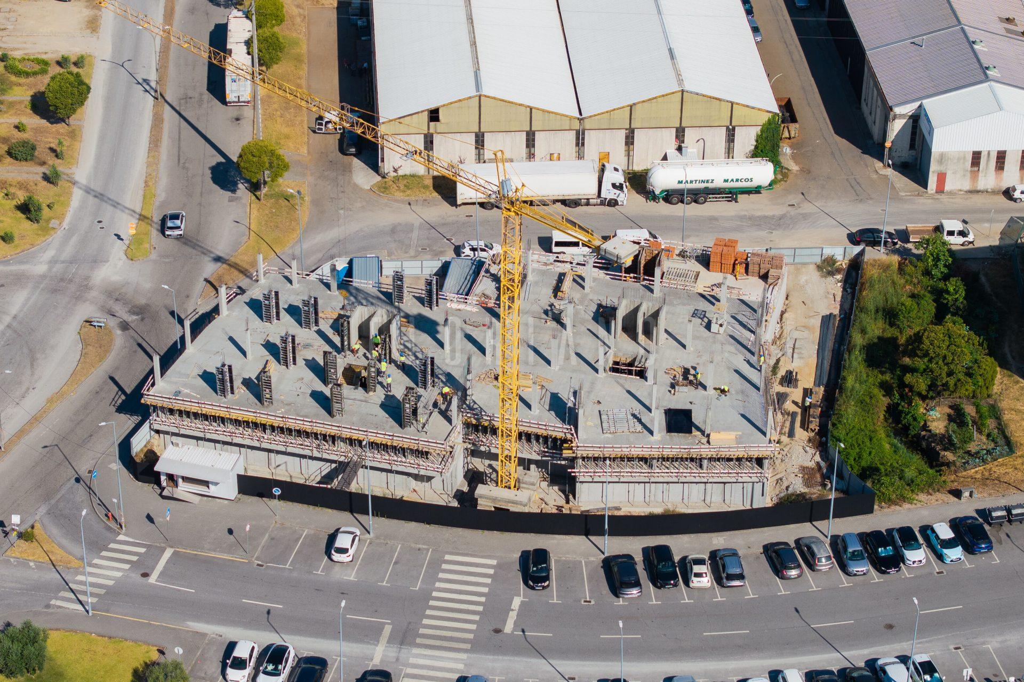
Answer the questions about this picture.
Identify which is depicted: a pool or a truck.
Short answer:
truck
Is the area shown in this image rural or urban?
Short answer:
urban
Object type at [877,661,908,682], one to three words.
car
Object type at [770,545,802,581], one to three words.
car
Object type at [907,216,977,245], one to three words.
truck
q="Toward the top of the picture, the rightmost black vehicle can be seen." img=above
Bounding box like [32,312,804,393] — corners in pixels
[852,225,899,248]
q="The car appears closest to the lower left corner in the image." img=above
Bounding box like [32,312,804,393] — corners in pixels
[225,642,256,682]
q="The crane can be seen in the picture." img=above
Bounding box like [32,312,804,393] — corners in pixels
[96,0,640,490]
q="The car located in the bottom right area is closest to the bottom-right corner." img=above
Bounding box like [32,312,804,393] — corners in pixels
[910,653,948,682]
